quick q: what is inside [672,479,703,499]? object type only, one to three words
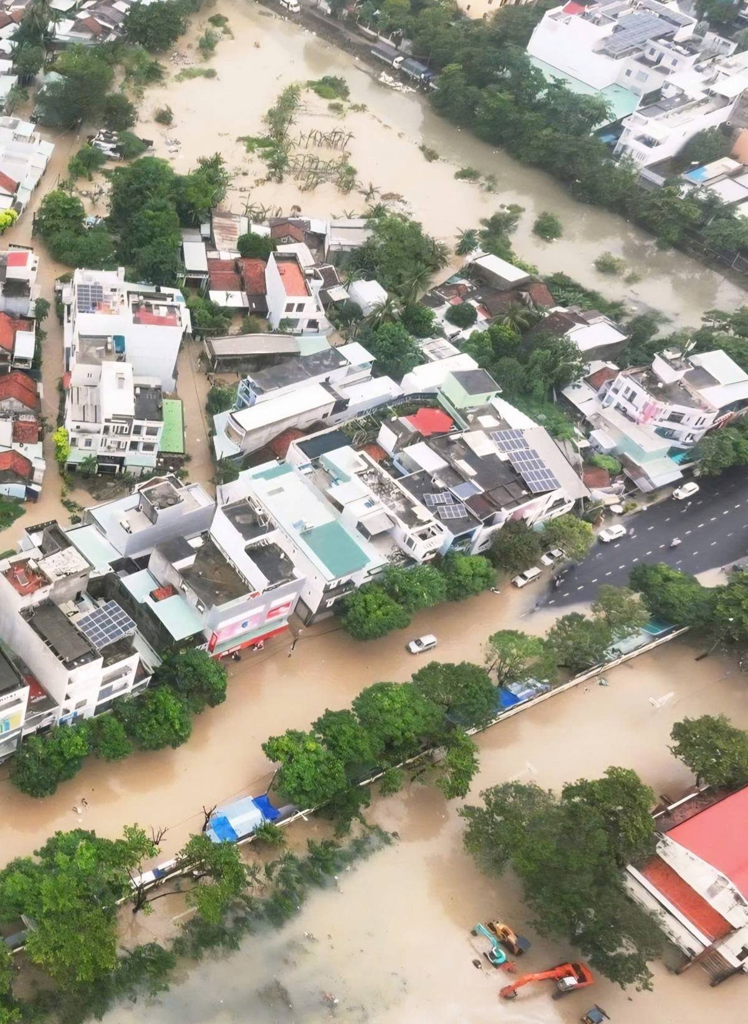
car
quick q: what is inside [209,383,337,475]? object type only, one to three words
house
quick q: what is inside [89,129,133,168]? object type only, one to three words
shed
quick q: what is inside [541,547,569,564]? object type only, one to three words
vehicle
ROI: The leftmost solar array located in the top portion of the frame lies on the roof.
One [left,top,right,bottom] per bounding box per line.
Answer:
[77,285,103,315]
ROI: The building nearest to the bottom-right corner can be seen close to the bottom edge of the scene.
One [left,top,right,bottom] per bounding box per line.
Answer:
[637,785,748,988]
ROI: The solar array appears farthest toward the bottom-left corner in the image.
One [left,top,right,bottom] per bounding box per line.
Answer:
[75,600,137,651]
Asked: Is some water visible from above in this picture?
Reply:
Yes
